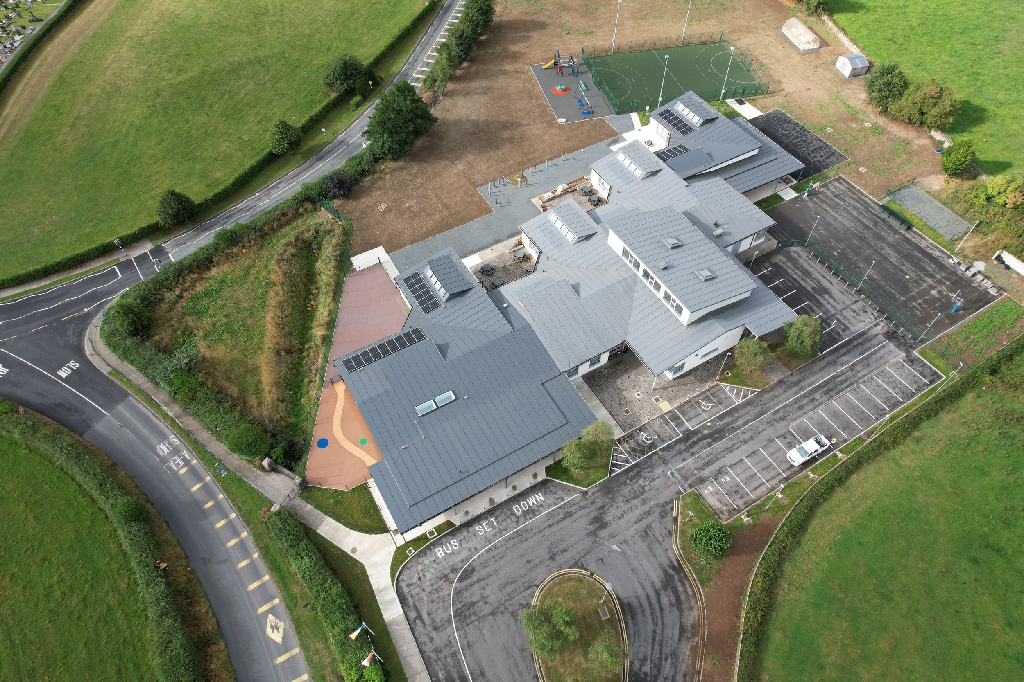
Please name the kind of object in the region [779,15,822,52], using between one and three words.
greenhouse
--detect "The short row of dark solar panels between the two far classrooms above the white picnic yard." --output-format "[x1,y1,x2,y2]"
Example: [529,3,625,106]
[655,144,690,160]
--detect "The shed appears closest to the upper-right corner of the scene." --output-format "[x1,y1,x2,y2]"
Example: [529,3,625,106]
[833,53,871,78]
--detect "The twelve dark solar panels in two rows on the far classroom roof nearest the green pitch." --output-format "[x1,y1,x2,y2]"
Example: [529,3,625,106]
[657,109,694,135]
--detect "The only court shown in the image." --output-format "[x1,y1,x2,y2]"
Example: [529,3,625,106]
[762,175,1006,350]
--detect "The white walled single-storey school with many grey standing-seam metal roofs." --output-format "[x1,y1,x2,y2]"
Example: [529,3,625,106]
[331,91,806,535]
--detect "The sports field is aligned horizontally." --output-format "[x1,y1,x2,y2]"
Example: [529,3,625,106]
[583,42,766,114]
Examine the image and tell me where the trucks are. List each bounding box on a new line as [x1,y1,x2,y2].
[787,433,833,466]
